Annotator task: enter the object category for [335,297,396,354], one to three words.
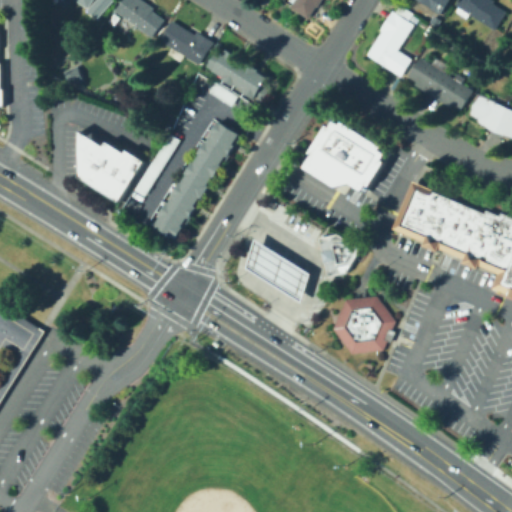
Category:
building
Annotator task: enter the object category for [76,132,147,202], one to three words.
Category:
building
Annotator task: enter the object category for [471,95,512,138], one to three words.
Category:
house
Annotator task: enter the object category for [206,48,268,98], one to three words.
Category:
house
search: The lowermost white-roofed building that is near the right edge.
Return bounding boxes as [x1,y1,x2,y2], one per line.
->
[392,182,512,298]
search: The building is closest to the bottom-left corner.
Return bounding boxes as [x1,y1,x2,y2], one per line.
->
[0,312,48,408]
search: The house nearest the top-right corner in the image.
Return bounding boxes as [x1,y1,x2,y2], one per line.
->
[458,0,508,29]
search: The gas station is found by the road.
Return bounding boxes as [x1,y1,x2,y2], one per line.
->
[234,196,326,332]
